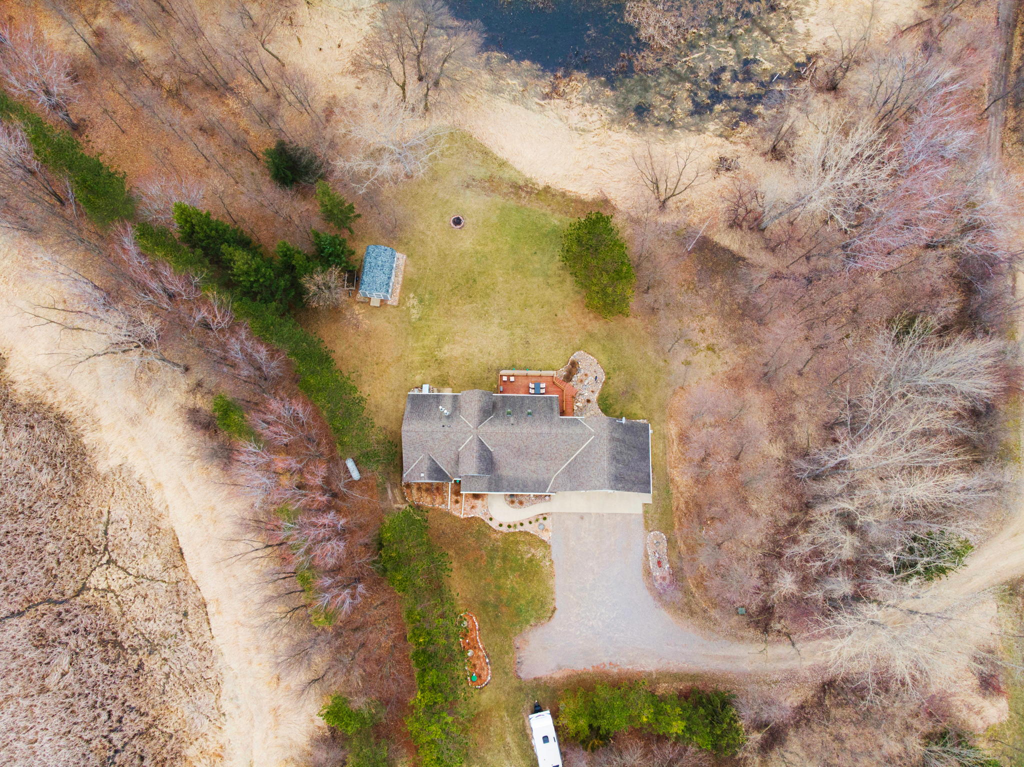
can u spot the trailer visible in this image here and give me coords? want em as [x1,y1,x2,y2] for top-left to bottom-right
[528,695,563,767]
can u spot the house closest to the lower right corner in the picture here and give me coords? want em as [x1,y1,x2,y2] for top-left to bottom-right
[402,389,653,496]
